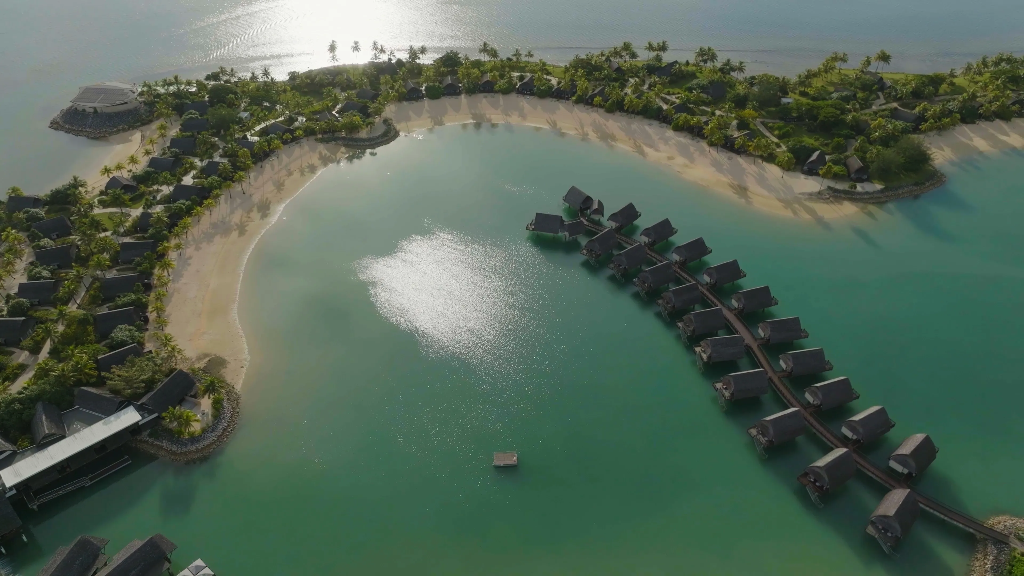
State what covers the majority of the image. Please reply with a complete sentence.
Most of the picture is covered by water.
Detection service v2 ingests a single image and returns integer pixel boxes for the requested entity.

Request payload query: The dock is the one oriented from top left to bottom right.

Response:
[578,211,1013,544]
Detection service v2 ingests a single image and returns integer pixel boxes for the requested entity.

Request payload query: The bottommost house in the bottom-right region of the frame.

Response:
[861,487,921,555]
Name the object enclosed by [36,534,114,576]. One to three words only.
building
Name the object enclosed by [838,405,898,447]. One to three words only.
house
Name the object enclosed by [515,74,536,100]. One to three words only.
house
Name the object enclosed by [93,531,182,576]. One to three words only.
building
